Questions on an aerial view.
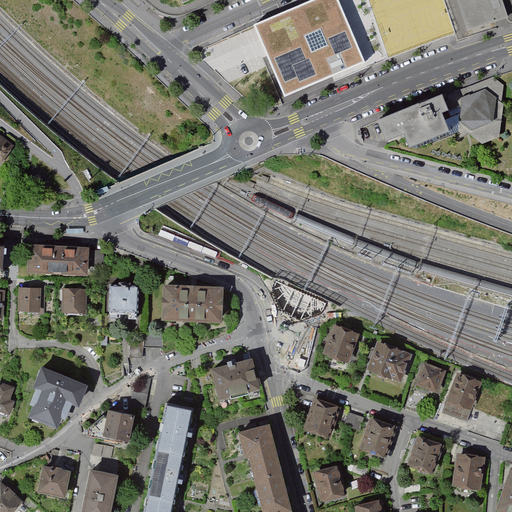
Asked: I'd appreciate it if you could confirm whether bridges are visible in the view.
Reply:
Yes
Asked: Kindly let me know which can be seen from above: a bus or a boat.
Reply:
bus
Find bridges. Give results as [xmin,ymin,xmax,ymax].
[98,128,256,222]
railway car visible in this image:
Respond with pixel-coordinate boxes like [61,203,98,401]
[251,194,294,218]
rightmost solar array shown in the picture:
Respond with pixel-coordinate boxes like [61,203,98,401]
[329,32,352,53]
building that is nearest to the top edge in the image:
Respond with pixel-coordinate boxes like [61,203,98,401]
[448,0,508,36]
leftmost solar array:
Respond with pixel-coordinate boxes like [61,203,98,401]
[150,453,168,498]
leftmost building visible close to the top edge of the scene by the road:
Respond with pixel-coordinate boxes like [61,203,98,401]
[256,0,372,96]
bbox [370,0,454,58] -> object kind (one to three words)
sports court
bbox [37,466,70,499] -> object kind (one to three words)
house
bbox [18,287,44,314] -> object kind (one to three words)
house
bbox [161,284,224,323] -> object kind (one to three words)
building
